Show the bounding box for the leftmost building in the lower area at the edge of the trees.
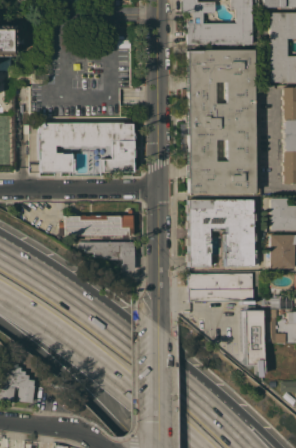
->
[0,368,35,403]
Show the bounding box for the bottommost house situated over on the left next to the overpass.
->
[76,242,135,270]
